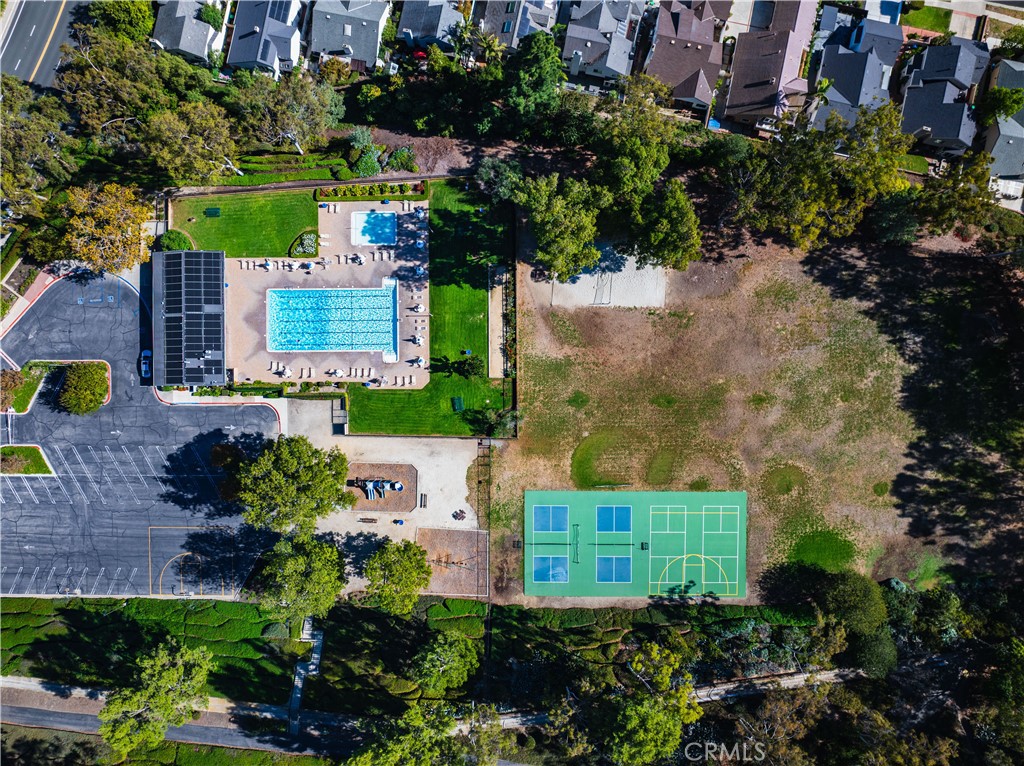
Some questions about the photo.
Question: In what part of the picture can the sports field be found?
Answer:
right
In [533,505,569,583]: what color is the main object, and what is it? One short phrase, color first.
blue sports court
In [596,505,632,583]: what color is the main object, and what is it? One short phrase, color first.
blue sports court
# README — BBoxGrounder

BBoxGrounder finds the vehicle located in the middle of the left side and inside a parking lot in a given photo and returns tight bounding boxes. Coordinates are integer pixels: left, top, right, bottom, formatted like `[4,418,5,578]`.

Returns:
[137,352,150,379]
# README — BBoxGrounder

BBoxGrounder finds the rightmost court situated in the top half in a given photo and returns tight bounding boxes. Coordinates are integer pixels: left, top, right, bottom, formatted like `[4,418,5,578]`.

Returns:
[552,245,668,307]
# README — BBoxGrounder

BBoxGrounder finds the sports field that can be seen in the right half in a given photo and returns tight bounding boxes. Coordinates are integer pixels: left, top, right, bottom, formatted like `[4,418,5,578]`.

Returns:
[489,232,1024,601]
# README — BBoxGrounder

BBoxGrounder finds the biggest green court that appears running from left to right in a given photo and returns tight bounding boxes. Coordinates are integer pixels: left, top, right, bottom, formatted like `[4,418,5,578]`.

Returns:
[524,490,747,598]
